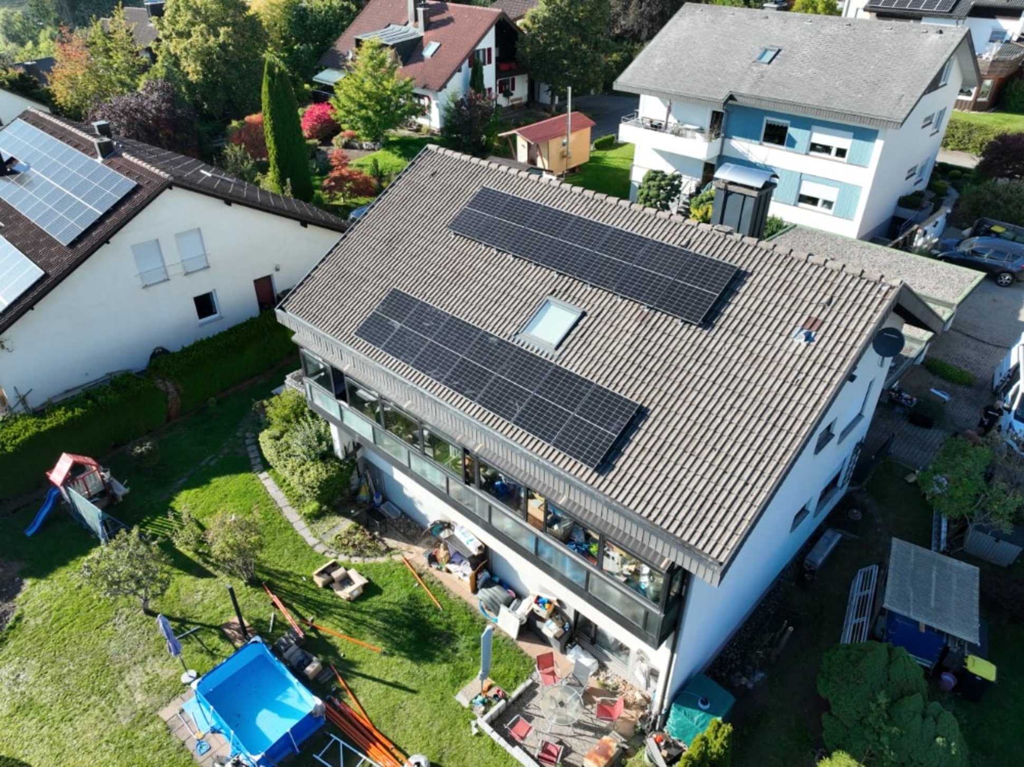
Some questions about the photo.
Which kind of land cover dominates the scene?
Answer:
buildings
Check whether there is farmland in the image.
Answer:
No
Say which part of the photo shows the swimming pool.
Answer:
bottom left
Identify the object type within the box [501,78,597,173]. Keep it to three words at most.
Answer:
shed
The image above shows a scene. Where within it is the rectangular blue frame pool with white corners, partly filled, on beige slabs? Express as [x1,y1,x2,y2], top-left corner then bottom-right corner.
[186,633,333,767]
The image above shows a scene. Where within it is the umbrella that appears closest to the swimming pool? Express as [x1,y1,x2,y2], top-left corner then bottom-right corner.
[155,615,199,685]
